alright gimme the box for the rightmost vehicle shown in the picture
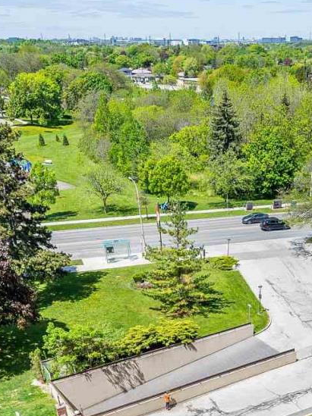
[260,217,291,231]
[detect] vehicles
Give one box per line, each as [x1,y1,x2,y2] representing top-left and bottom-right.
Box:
[242,211,270,224]
[260,217,291,231]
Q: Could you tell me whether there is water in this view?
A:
No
